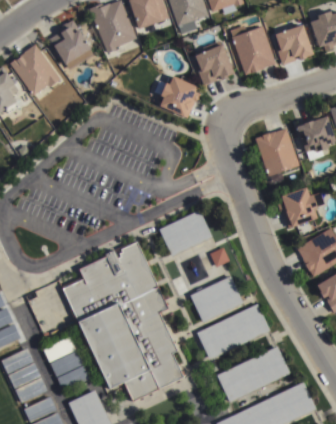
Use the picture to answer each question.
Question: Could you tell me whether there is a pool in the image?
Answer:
Yes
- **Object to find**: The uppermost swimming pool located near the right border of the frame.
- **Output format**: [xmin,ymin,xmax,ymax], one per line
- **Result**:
[311,158,332,173]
